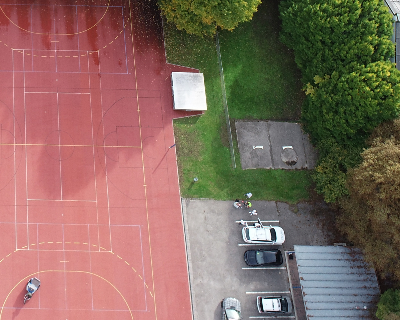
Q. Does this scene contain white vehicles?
Yes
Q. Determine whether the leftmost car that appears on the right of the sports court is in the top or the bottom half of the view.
bottom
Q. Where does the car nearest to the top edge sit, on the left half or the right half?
right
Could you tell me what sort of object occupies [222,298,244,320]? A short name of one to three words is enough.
car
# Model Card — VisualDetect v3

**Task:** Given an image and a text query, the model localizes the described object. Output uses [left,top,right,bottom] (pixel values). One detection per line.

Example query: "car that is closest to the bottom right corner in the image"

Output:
[258,295,296,317]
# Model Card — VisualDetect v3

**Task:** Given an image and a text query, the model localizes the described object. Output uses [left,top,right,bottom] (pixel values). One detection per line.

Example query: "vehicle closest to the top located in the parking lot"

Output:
[243,218,287,246]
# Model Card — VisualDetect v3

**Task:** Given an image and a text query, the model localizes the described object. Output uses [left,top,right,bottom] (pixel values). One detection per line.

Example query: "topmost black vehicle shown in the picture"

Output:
[246,248,286,268]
